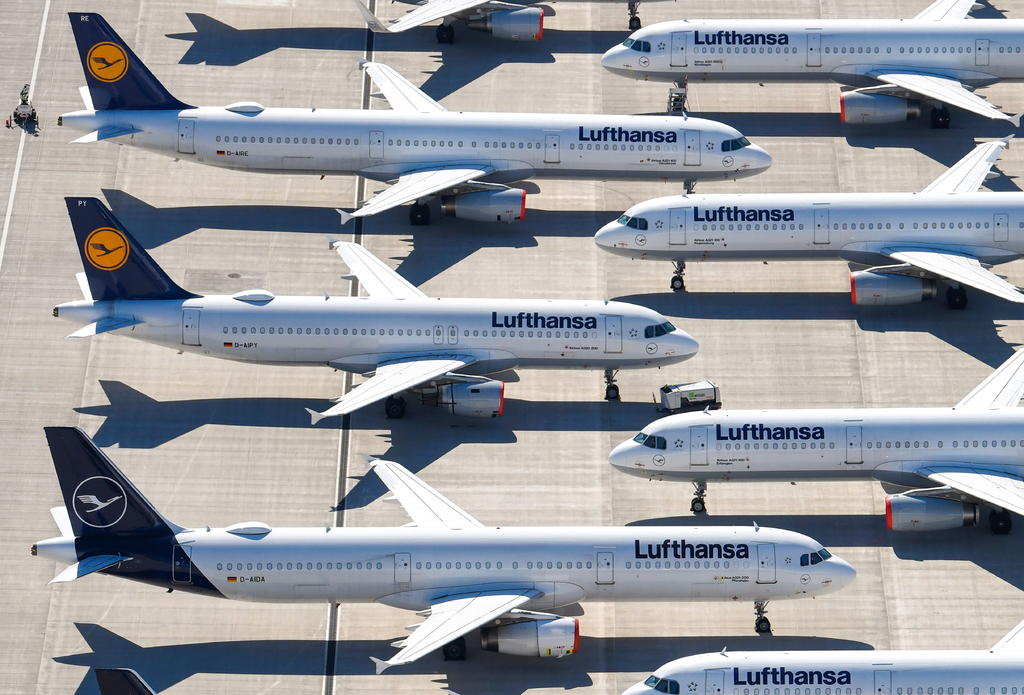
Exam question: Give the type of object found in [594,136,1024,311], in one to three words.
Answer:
airplane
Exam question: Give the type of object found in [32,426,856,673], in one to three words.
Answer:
airplane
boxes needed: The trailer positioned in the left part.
[5,82,45,130]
